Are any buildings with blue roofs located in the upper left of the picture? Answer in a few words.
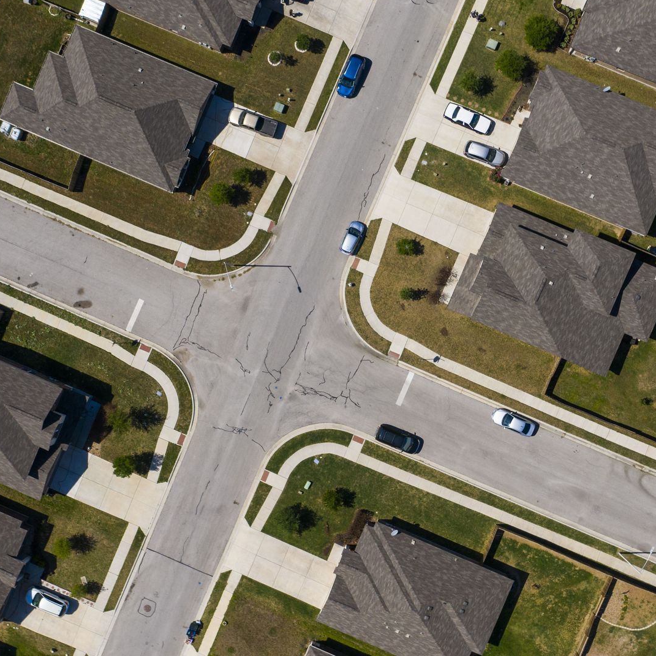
No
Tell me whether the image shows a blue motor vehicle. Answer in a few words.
Yes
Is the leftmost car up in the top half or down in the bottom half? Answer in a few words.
bottom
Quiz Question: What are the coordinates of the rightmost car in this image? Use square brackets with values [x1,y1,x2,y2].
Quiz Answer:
[489,408,538,439]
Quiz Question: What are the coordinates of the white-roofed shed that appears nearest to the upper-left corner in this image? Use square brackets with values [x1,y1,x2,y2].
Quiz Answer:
[75,0,106,25]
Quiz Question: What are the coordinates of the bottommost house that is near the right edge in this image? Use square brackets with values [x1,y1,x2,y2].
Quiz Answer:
[447,203,656,376]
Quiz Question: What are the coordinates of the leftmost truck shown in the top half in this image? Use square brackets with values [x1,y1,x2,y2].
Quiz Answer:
[225,110,280,146]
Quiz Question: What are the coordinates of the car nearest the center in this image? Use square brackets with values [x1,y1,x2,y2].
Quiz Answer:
[338,219,366,257]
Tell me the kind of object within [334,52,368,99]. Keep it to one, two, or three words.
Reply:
car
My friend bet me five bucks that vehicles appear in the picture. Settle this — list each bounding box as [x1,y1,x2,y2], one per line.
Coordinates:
[489,408,538,439]
[225,110,280,146]
[464,138,508,169]
[24,588,69,620]
[338,219,366,257]
[334,52,368,99]
[442,102,494,137]
[375,422,424,455]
